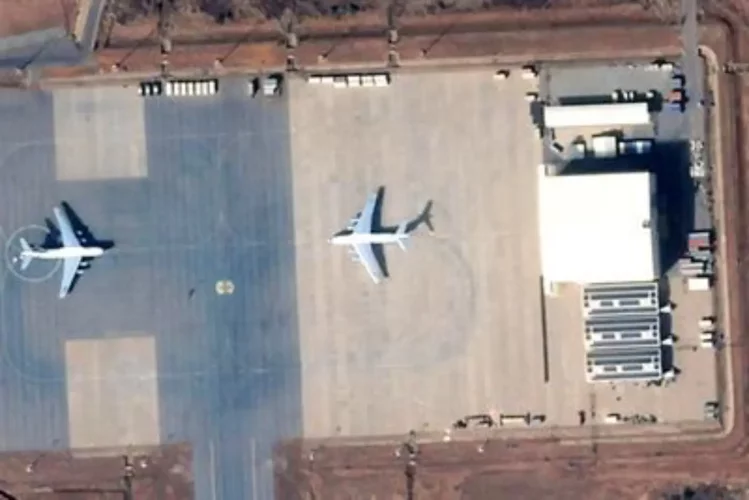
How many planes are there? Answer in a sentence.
The count of planes comes to 2.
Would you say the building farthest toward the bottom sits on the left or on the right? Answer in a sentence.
The building farthest toward the bottom is on the right side of the image.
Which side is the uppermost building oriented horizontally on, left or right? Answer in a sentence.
The uppermost building oriented horizontally sits on the right side.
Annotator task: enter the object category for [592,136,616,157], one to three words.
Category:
building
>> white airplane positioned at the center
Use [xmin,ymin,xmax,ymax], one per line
[330,192,411,284]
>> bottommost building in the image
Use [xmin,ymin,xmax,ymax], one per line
[587,347,662,383]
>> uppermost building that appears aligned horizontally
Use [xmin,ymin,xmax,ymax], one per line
[545,103,650,127]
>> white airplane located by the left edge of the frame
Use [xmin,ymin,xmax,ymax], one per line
[19,207,105,298]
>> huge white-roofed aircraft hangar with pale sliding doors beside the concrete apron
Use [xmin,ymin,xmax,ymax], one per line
[541,164,671,293]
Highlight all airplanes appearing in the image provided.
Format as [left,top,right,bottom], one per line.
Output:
[19,207,105,298]
[330,192,411,284]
